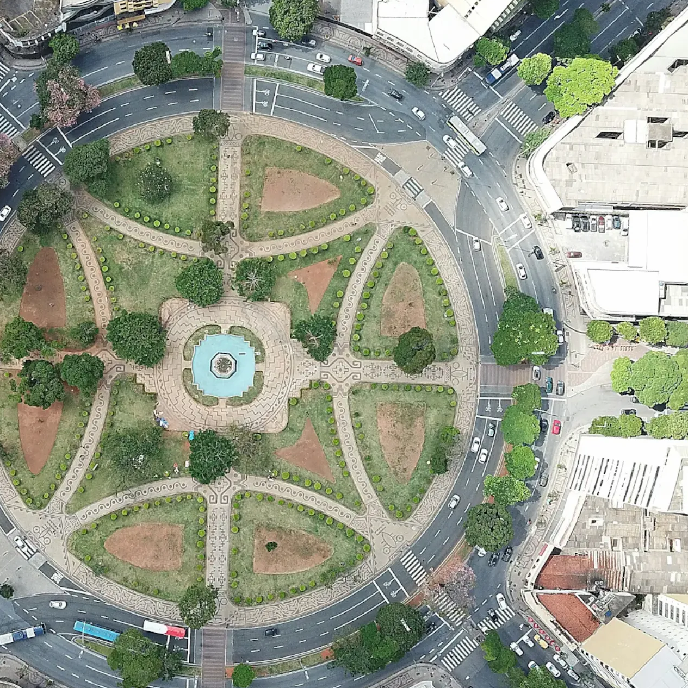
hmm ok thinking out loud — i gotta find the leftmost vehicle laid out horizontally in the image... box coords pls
[0,624,47,642]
